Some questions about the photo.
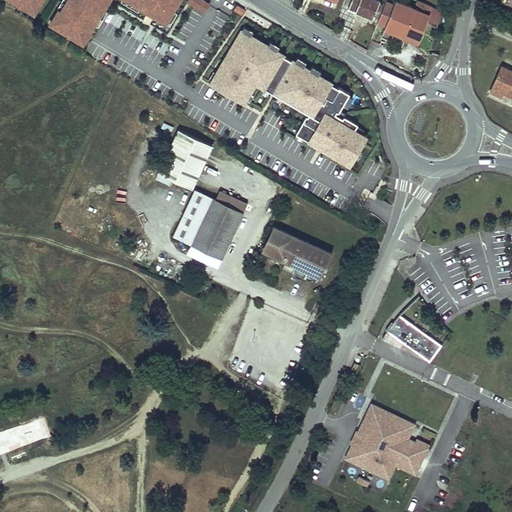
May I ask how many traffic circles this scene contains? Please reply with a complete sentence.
Altogether the scene contains 1 traffic circle.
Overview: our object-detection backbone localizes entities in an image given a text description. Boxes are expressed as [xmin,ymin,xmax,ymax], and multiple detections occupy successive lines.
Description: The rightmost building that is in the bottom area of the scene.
[387,316,442,363]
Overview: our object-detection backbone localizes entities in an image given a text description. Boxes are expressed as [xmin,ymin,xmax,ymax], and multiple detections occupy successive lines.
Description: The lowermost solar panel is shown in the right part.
[290,256,327,284]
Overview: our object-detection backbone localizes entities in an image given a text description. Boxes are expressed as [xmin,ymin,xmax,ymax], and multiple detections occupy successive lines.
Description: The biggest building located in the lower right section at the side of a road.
[344,400,430,484]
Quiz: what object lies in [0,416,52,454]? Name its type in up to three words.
building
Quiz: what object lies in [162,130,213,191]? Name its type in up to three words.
shed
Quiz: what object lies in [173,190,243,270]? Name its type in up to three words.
building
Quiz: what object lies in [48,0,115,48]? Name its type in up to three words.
house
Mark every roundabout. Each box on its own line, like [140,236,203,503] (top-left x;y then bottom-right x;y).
[387,81,484,178]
